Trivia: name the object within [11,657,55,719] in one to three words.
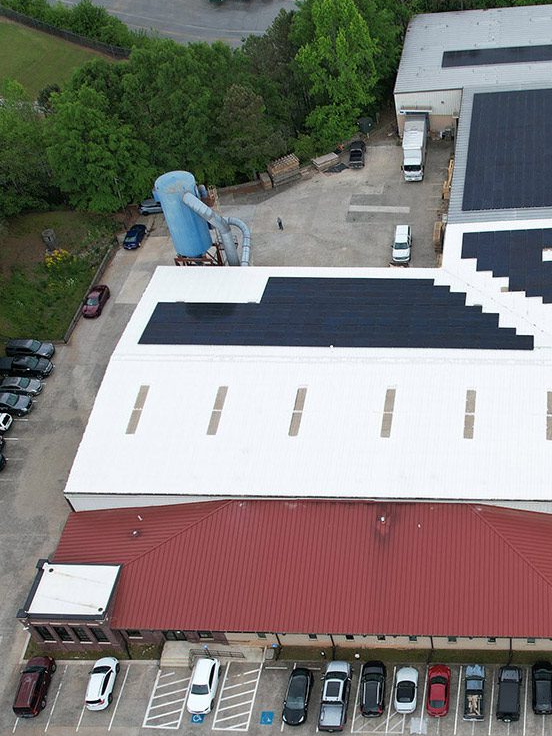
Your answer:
car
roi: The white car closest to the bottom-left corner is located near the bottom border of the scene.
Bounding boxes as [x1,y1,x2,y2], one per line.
[83,656,122,713]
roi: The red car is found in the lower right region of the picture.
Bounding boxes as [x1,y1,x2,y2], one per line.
[425,664,453,721]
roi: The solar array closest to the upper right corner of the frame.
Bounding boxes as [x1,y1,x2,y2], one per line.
[441,43,552,66]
